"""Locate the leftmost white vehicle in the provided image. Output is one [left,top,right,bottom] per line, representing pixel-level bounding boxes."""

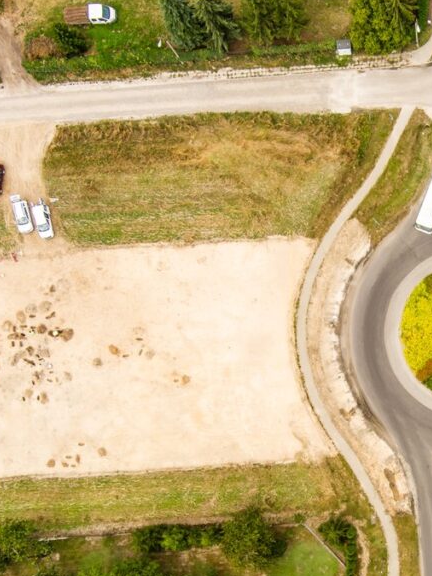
[8,190,34,235]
